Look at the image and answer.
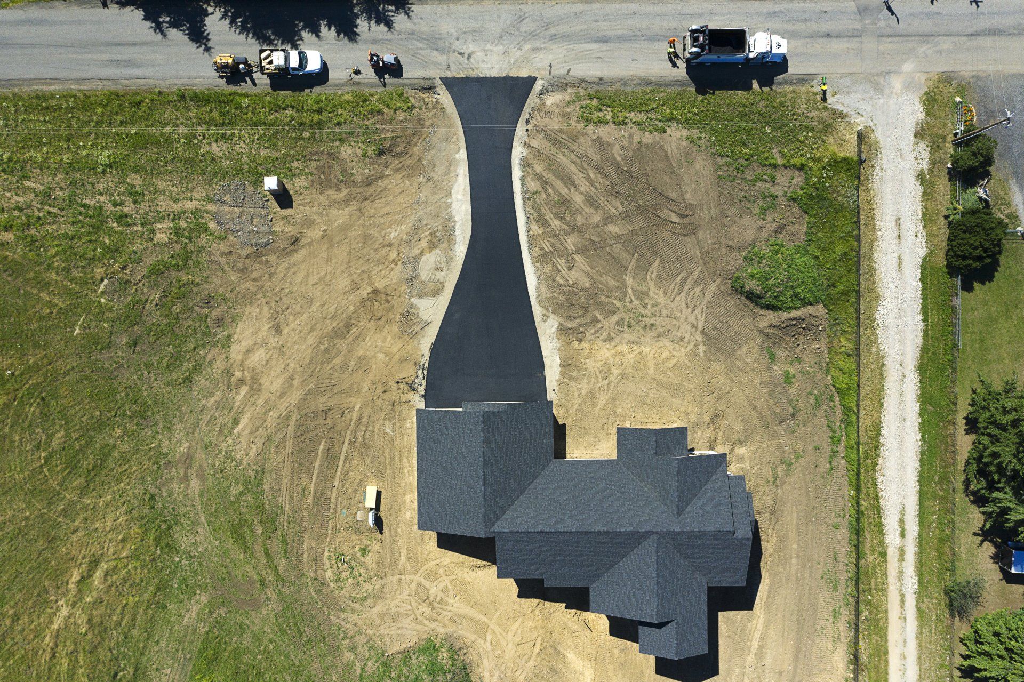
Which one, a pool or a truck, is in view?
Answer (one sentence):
The one in the frame is a truck.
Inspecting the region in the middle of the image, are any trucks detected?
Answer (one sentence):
No, no truck can be made out in the middle of the image.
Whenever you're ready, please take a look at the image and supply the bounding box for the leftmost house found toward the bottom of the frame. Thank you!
[416,401,756,659]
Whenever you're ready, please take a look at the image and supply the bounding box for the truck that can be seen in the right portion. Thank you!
[681,26,787,65]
